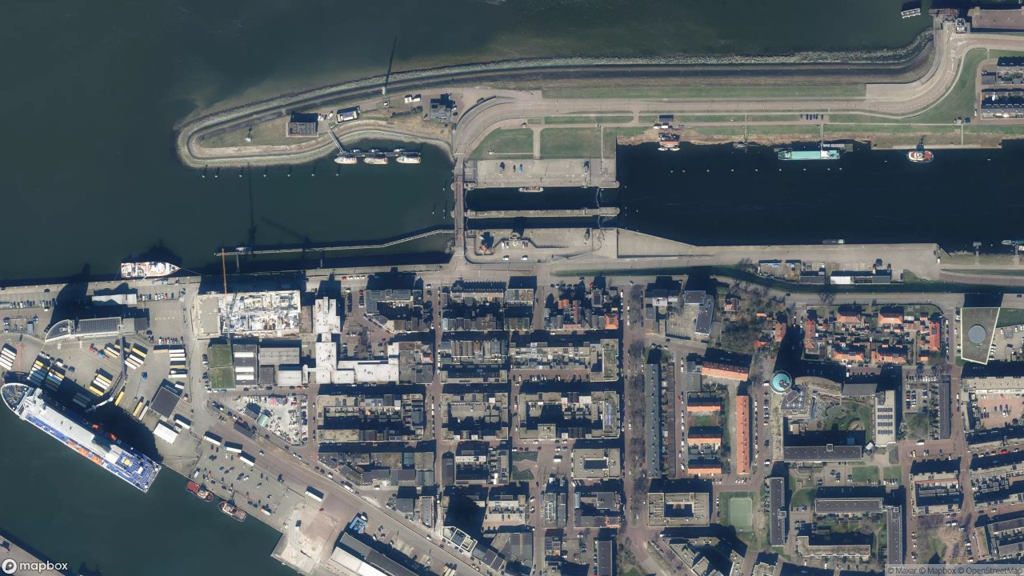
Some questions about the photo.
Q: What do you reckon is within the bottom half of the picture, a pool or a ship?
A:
ship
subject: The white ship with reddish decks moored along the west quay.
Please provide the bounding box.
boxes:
[121,262,180,284]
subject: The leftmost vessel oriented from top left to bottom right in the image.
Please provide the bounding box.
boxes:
[0,383,161,492]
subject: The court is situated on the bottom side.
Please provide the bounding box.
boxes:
[730,498,752,532]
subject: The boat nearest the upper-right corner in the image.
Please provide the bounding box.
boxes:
[908,150,934,162]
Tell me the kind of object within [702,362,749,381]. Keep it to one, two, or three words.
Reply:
house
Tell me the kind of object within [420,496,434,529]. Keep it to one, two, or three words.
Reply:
building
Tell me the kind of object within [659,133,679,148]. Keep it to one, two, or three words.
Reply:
boat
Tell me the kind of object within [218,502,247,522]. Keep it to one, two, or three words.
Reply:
boat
